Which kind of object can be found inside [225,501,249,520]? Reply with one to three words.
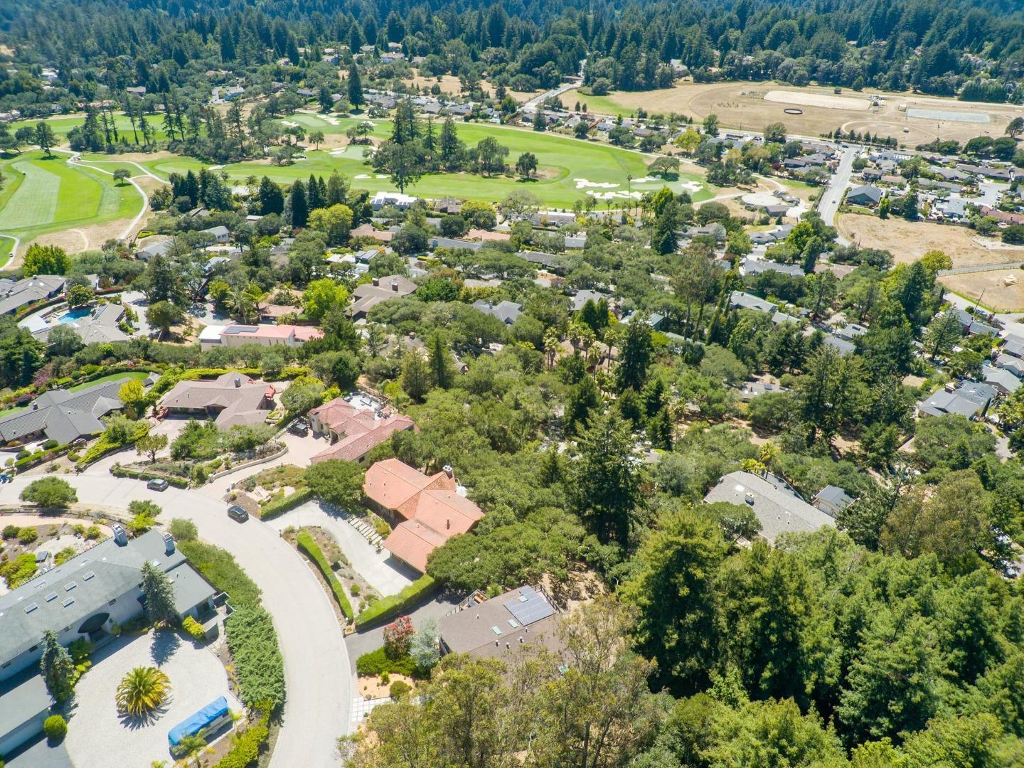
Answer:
car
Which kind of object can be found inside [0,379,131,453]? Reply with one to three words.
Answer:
house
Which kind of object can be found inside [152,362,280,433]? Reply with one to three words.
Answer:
house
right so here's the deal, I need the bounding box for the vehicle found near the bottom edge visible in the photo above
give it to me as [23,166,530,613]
[164,693,235,752]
